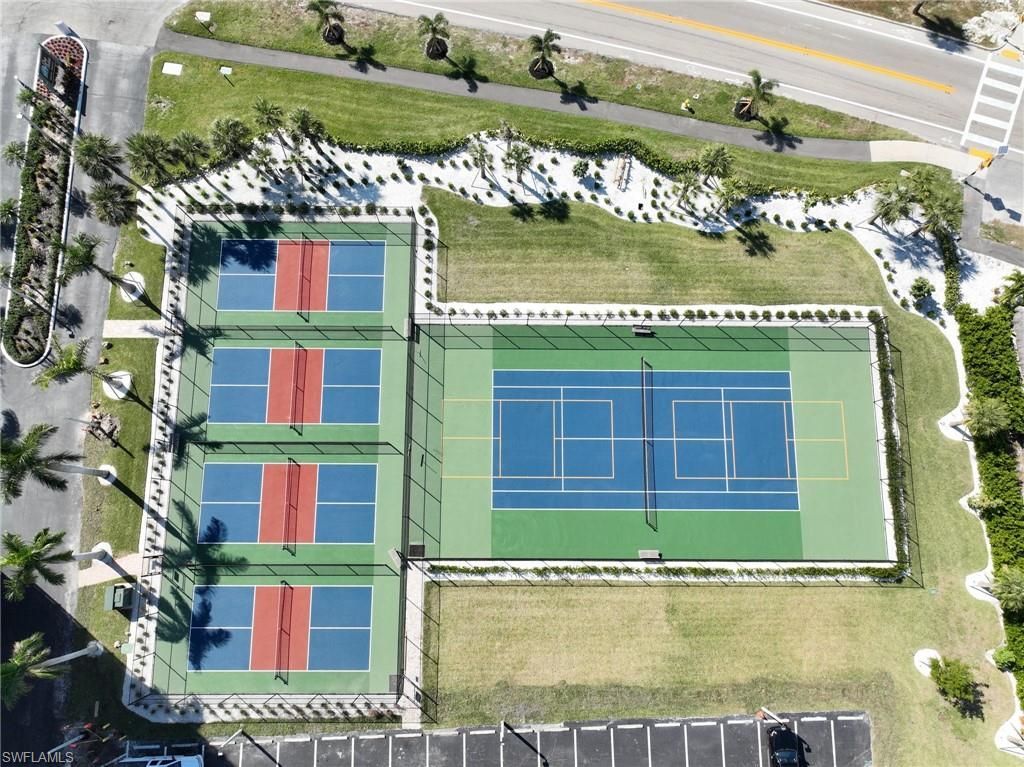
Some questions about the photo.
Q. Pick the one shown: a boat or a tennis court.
tennis court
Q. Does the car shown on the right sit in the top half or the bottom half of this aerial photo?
bottom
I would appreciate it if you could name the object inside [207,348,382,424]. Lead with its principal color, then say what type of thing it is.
blue sports court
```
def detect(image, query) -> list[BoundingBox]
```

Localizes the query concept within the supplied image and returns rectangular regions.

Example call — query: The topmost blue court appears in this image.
[217,239,386,312]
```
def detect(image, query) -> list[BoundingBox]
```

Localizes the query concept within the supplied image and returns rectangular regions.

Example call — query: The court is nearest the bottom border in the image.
[187,585,373,671]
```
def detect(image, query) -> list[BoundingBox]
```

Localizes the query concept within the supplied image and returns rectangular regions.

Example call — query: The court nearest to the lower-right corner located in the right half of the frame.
[406,325,889,560]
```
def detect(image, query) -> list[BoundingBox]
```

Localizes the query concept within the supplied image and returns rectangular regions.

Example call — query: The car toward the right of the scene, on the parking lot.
[771,729,805,767]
